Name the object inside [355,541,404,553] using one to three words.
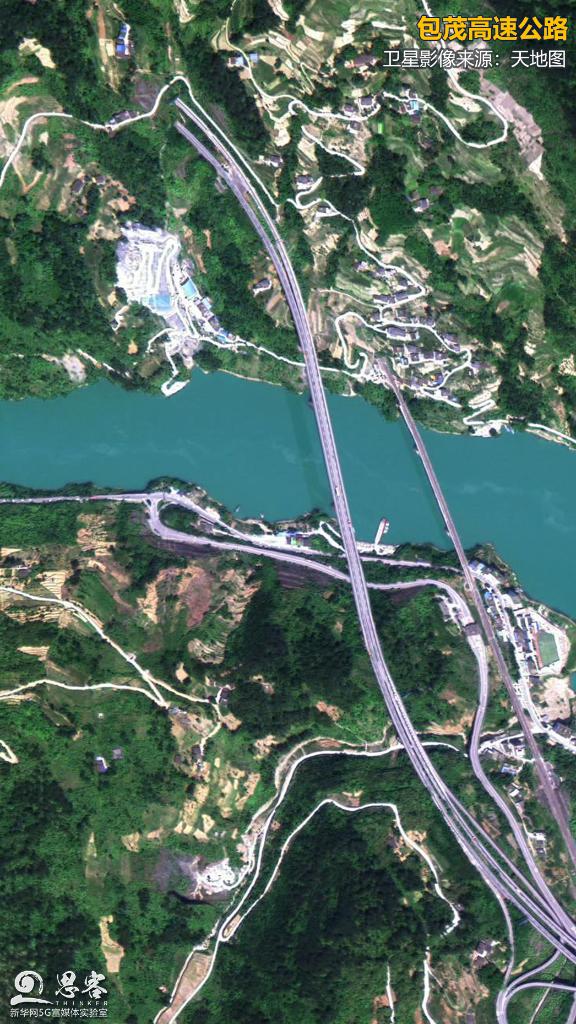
pier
